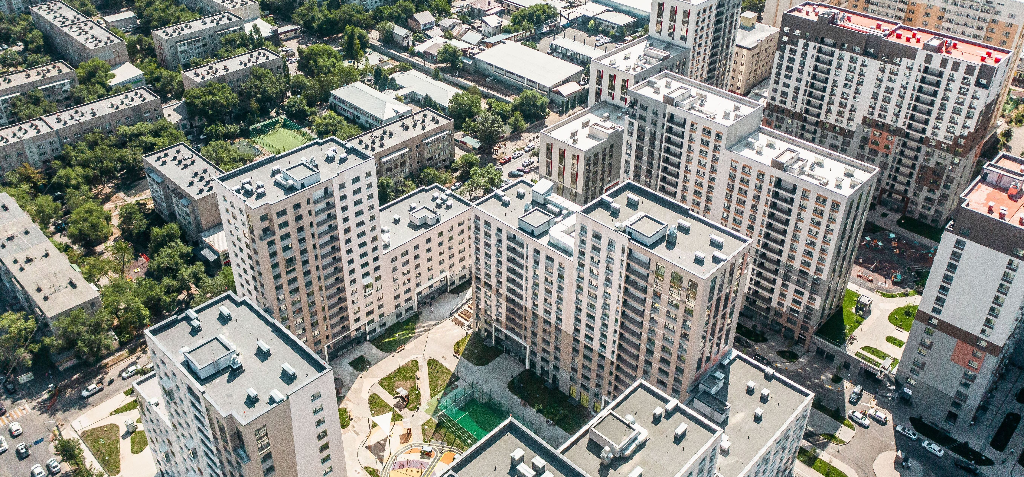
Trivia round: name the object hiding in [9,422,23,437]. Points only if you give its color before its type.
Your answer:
white car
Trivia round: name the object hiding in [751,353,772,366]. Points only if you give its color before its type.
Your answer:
black vehicle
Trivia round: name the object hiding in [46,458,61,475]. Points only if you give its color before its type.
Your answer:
white car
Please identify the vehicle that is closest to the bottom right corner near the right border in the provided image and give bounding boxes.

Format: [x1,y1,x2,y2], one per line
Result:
[955,458,981,474]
